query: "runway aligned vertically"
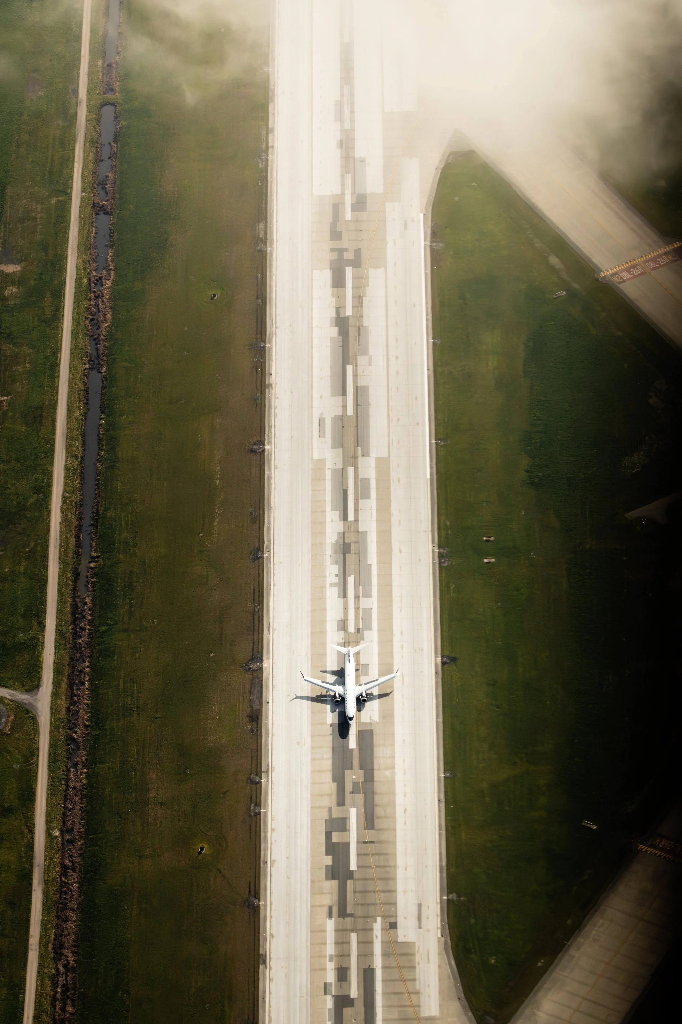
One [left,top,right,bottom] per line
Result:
[265,0,442,1024]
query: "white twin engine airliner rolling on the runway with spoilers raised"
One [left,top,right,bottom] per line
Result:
[300,630,399,725]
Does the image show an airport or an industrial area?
airport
